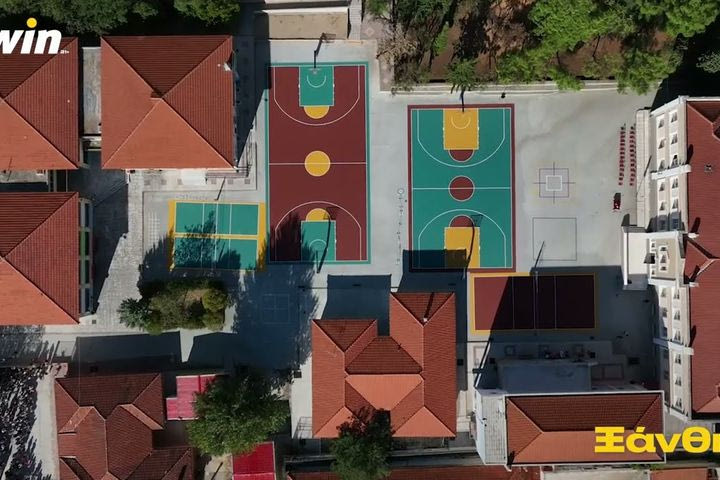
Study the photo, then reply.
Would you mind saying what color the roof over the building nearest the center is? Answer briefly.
red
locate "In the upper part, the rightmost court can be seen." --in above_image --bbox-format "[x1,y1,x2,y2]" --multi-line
[533,162,574,204]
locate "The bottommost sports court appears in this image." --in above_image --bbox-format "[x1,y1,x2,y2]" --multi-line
[468,273,598,335]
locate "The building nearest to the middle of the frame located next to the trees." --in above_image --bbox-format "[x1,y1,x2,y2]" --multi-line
[311,292,456,437]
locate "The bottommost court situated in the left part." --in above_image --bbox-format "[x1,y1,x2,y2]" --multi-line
[169,200,265,272]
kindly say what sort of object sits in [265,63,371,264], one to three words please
basketball court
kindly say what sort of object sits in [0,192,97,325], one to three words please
building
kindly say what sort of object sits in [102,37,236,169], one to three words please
building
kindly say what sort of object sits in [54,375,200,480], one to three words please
house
